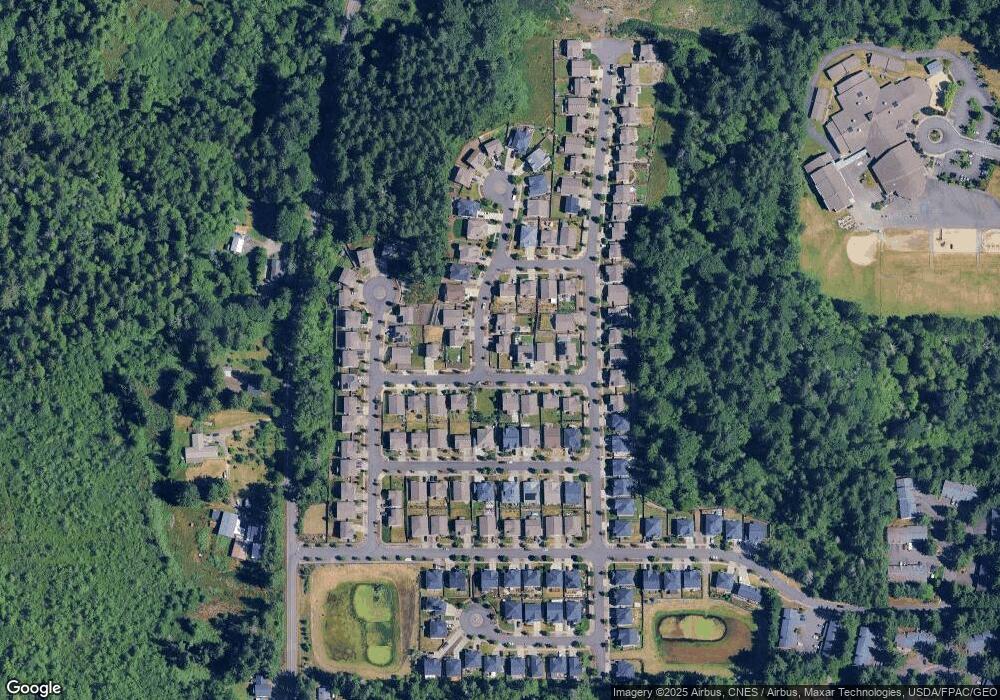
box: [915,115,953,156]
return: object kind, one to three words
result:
roundabout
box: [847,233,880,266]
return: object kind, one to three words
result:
sports field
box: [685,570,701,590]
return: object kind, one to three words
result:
house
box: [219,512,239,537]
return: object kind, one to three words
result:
barn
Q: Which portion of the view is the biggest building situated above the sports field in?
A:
top right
